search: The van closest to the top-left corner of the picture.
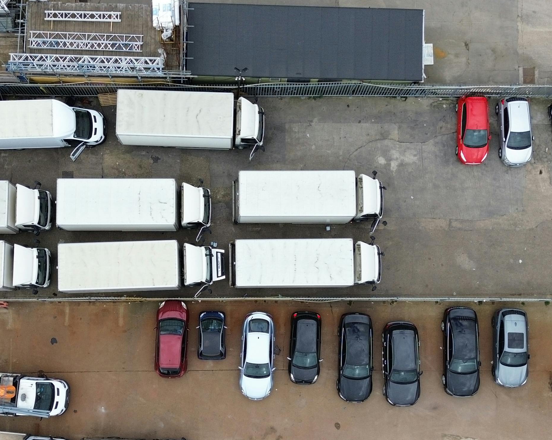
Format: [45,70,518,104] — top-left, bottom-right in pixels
[0,99,107,162]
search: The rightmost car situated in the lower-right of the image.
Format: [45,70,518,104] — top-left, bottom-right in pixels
[490,310,533,386]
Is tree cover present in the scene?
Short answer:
No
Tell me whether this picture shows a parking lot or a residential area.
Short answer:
parking lot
